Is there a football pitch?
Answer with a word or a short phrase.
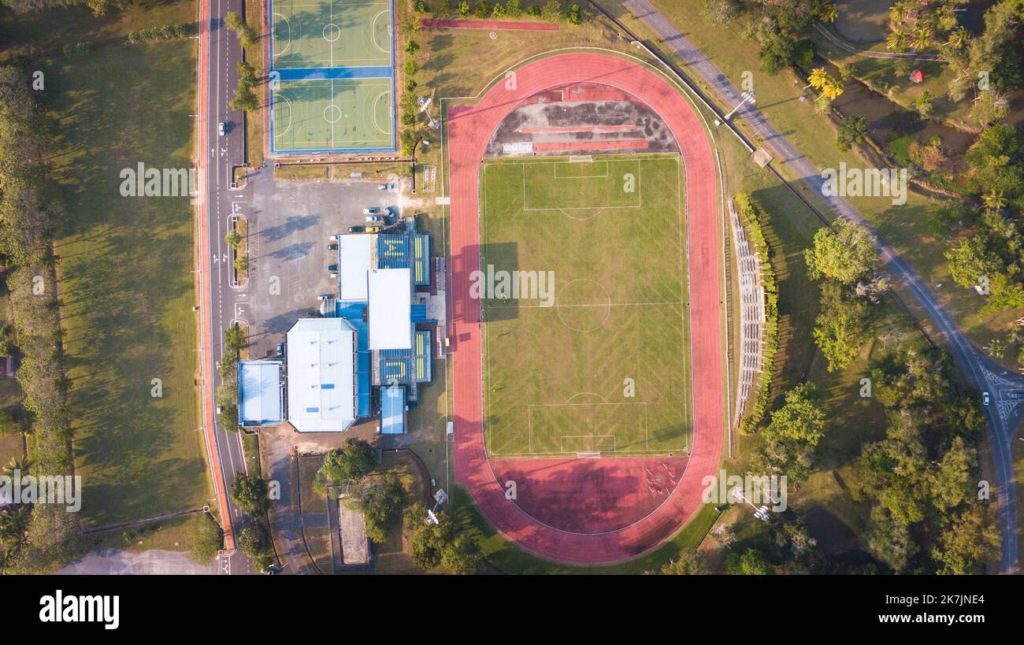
Yes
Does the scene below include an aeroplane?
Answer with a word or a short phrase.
No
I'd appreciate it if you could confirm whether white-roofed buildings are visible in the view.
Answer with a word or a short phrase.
Yes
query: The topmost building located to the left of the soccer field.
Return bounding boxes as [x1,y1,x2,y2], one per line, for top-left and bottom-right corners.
[339,234,371,299]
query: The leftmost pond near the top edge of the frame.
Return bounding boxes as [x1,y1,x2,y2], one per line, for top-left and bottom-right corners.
[832,0,897,45]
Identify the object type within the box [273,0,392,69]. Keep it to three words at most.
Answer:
sports court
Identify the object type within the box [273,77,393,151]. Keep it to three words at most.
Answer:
sports court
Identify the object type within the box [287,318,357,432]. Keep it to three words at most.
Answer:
building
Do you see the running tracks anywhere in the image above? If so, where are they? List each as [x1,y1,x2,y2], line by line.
[447,52,722,565]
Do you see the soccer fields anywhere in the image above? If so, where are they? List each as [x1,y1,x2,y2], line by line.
[479,152,692,458]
